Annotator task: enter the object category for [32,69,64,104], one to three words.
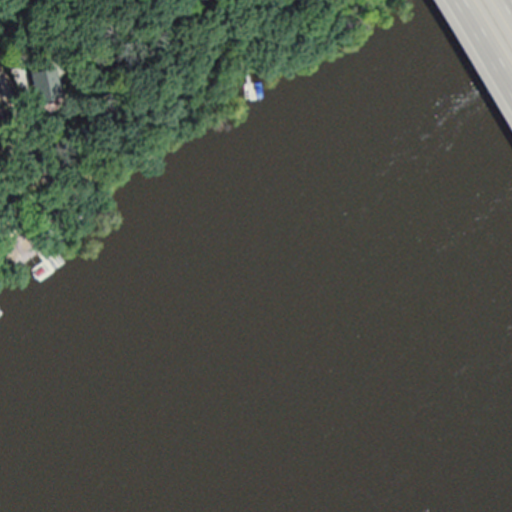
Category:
house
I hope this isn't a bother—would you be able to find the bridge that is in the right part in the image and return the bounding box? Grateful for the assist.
[435,0,512,128]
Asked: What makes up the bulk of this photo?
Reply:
water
